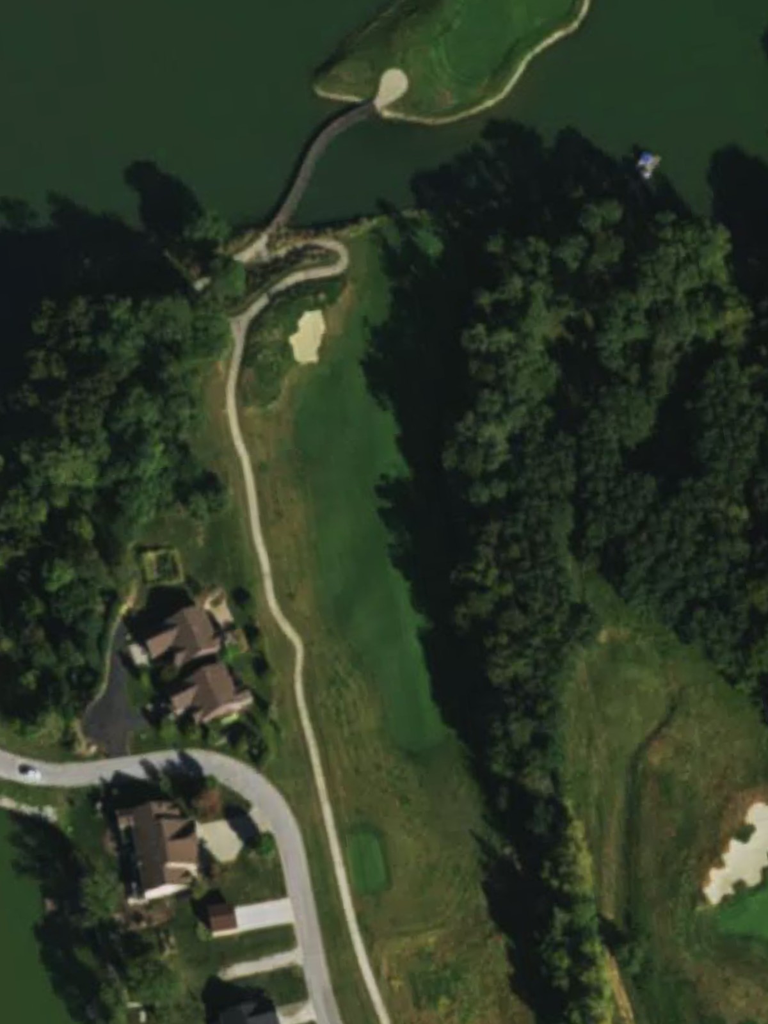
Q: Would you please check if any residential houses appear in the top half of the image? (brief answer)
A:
No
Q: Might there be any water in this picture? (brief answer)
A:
Yes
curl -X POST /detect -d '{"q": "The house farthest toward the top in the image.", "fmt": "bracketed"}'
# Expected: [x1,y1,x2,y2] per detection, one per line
[138,606,222,671]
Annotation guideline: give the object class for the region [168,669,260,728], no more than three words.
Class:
house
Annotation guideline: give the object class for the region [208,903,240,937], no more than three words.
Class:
building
